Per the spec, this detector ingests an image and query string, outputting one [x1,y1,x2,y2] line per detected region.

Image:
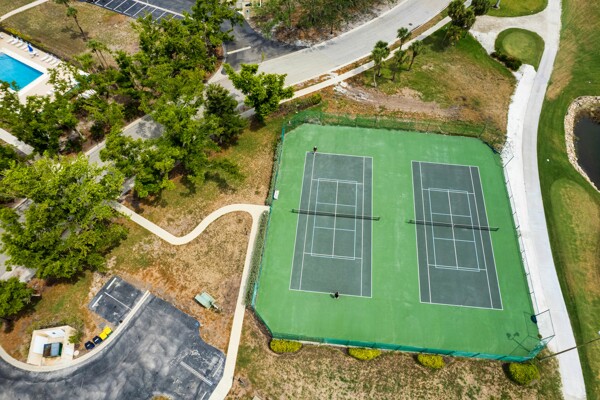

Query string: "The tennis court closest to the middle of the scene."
[290,151,380,298]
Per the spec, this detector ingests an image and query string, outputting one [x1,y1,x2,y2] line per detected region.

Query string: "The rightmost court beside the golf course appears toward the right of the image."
[409,160,503,310]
